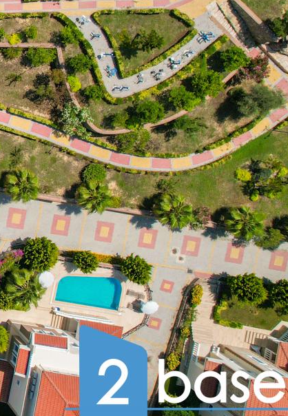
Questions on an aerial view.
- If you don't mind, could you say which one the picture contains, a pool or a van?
pool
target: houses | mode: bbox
[0,309,128,416]
[176,324,288,416]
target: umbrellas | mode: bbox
[37,272,54,288]
[136,297,158,317]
